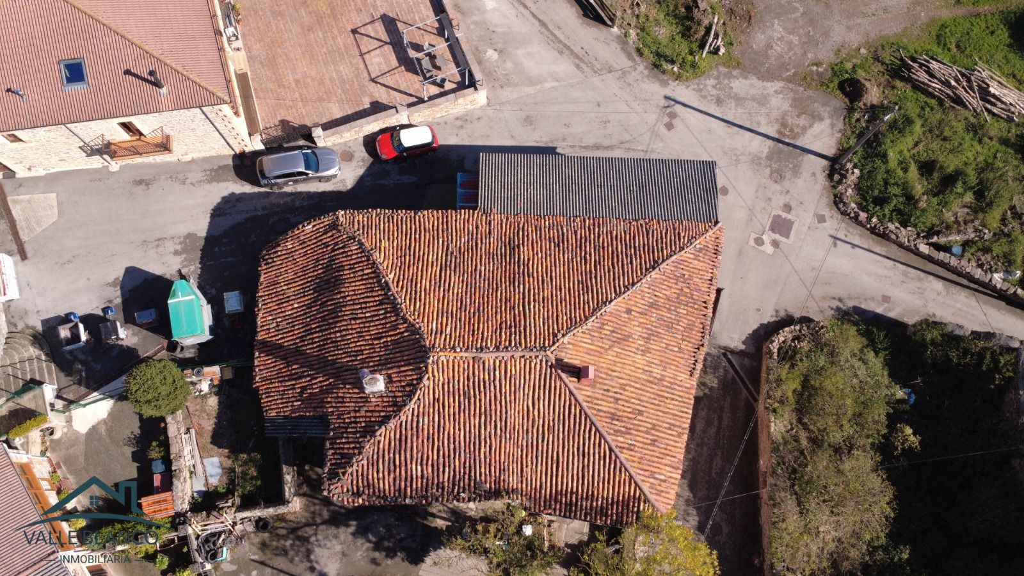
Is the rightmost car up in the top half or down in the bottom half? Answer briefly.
top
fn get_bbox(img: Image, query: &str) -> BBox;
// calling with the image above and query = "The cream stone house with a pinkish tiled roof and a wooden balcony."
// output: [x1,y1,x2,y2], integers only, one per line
[0,0,250,182]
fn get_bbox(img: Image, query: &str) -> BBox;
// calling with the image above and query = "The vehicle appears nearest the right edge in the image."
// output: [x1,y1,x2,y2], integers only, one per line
[376,124,441,166]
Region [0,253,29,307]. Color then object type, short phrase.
white camper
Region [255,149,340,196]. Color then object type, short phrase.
gray car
